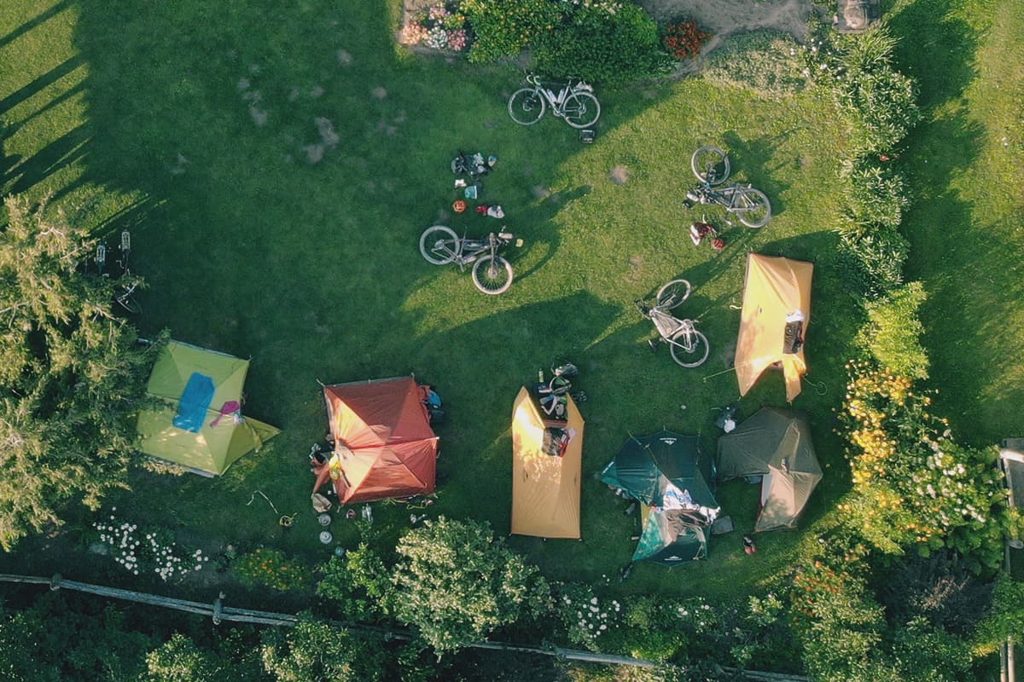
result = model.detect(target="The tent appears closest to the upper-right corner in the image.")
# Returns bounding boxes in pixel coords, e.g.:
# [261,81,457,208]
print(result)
[705,250,827,405]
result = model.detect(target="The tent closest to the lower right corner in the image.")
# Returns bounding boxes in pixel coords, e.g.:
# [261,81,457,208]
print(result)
[712,403,830,536]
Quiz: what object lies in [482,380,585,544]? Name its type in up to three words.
tent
